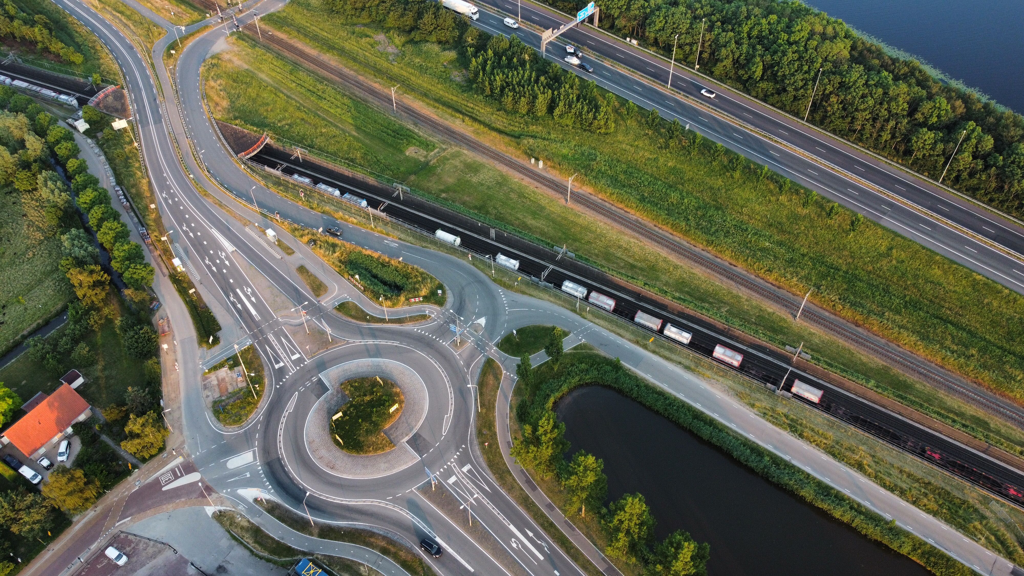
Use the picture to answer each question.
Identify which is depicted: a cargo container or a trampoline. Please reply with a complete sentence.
Visible in the photo is a cargo container.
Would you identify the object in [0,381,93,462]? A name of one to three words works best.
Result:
house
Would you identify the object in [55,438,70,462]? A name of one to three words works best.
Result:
car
